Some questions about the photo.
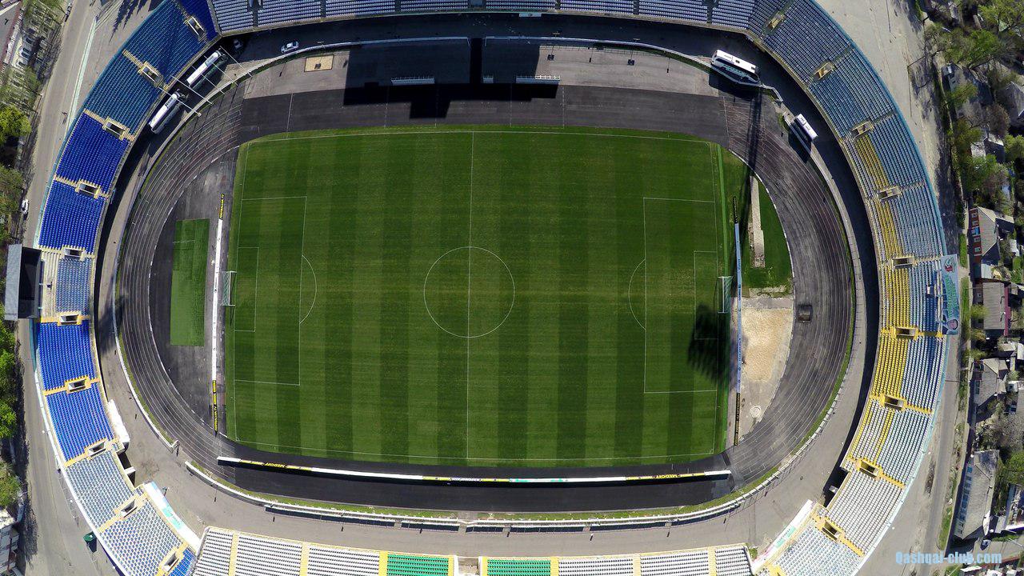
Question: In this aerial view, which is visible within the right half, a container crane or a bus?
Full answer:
What appears within the right half is a bus.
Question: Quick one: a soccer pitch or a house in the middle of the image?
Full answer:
Visible in the middle of the image is a soccer pitch.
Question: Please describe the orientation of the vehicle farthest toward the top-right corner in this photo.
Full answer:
The vehicle farthest toward the top-right corner has been laid out at an angle relative to the frame.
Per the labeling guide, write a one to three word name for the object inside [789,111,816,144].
vehicle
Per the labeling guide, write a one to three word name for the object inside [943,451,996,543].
house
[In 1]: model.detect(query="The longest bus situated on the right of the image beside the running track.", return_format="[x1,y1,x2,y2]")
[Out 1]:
[707,45,761,83]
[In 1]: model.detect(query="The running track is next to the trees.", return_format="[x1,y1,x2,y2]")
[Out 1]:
[119,83,850,513]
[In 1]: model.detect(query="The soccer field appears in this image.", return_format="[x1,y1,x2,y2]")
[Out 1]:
[224,125,734,467]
